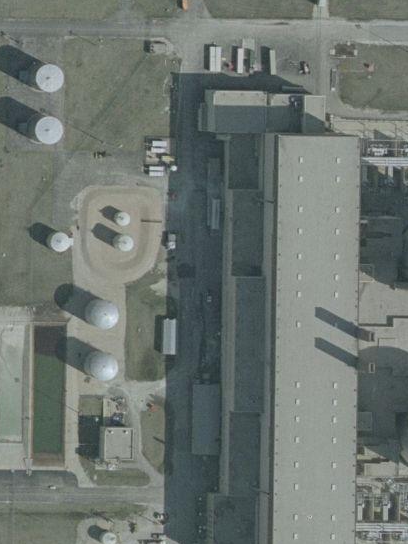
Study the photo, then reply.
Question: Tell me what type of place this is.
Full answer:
The area seen from above is an industrial area.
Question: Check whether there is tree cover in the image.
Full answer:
No, no tree cover is visible.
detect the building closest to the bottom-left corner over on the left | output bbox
[99,428,134,460]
